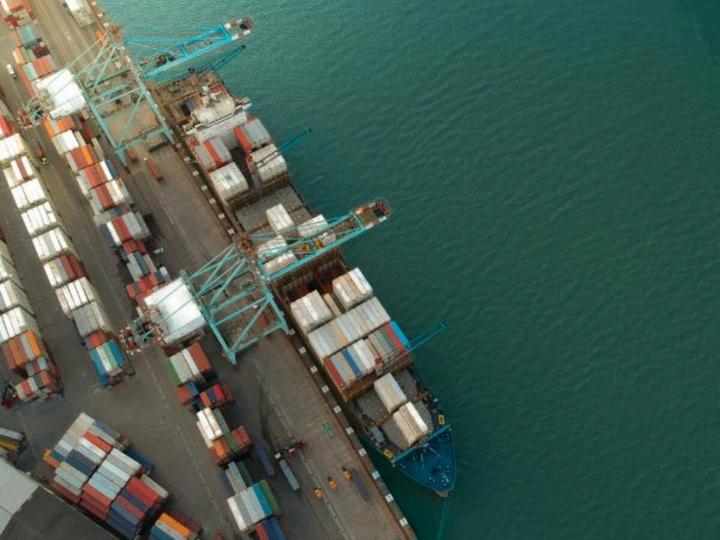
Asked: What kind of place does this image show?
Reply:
port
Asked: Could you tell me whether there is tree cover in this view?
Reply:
No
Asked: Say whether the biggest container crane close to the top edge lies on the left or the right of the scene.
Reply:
left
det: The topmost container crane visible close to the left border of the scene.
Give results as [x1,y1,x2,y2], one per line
[17,18,259,169]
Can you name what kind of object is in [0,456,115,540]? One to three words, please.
shed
